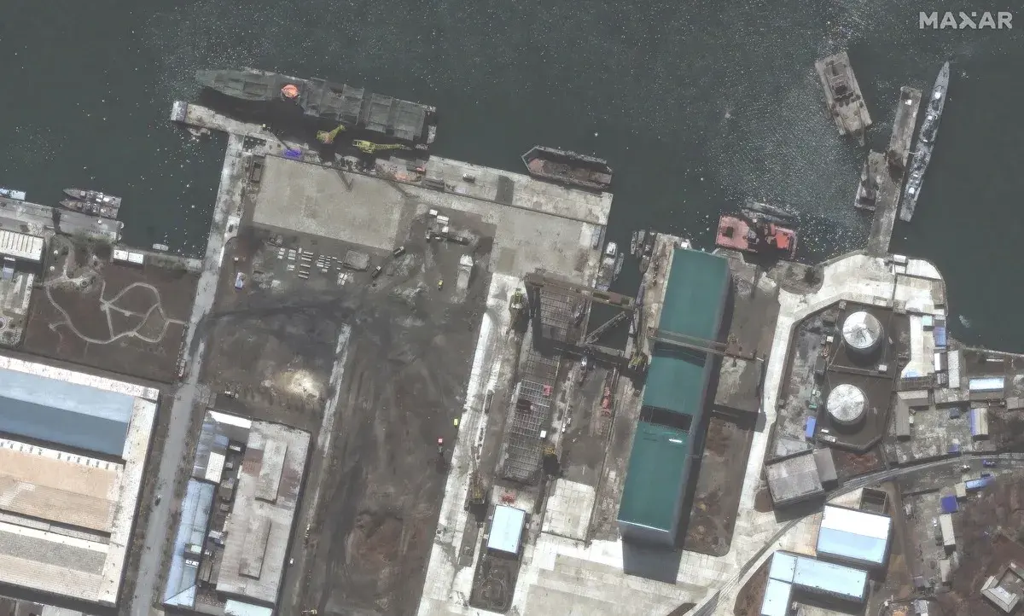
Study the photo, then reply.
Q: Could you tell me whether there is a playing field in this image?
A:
No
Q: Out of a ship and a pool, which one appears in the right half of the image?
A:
ship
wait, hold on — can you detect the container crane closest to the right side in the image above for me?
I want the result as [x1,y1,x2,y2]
[646,324,763,394]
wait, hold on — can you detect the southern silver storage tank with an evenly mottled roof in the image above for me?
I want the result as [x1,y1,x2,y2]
[827,385,867,428]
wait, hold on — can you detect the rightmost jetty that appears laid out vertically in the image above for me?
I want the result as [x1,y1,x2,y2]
[867,87,922,256]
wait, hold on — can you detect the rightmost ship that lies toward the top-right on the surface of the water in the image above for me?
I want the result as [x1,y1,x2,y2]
[898,60,948,224]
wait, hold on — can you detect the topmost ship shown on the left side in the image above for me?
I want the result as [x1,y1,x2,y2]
[195,69,431,146]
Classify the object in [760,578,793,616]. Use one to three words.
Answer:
building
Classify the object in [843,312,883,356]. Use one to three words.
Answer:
storage tank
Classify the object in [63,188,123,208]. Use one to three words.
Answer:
boat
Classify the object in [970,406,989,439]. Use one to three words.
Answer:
house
